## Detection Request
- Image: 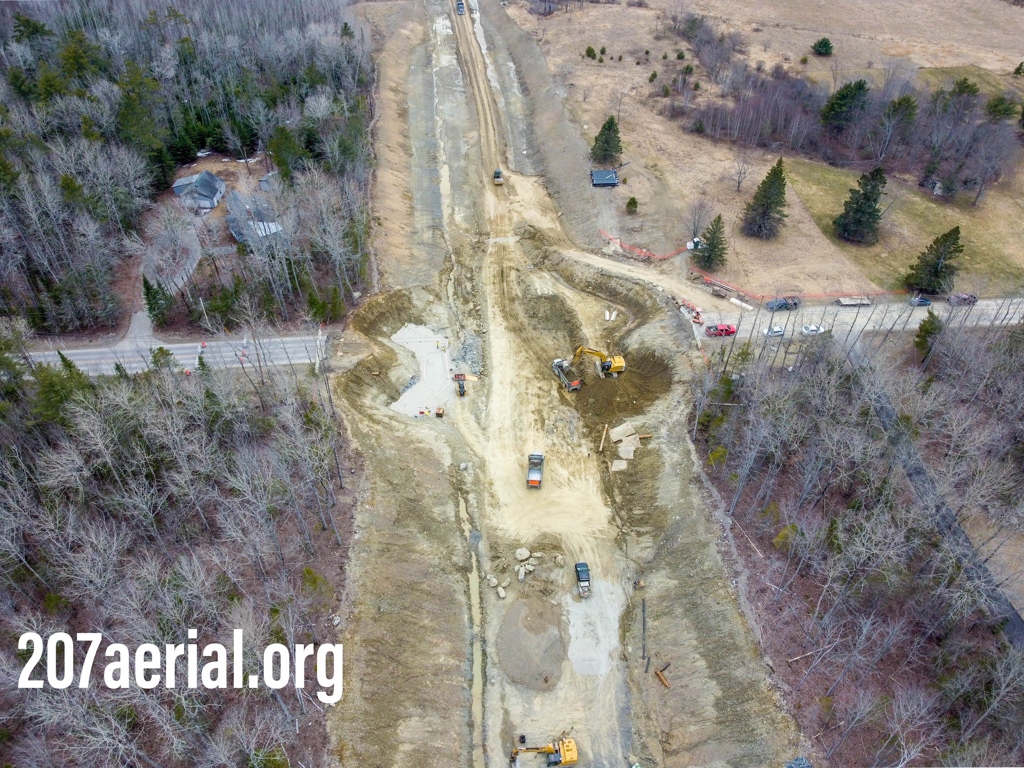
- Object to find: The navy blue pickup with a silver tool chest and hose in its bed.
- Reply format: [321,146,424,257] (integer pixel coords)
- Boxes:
[575,560,593,596]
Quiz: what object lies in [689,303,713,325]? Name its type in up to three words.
work vehicle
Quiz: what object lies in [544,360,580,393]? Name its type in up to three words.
truck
